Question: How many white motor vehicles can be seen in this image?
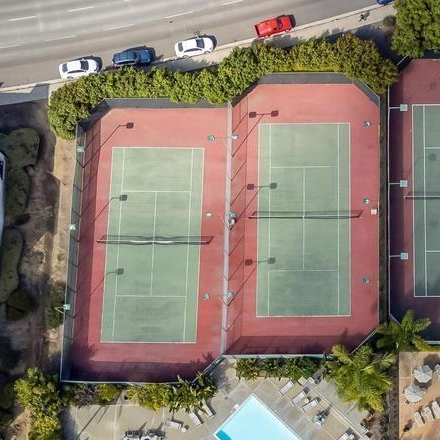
2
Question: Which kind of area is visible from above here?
sports ground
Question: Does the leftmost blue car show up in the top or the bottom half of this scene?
top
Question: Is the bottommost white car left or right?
left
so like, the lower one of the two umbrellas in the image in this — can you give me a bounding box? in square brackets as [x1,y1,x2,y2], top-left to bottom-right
[403,382,426,405]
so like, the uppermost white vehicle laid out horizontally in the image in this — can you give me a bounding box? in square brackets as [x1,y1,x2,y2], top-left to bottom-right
[174,36,215,59]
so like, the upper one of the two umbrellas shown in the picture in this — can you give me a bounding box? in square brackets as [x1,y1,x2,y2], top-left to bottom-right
[412,363,434,385]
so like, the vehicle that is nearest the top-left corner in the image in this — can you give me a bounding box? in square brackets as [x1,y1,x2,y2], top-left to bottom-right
[58,56,101,78]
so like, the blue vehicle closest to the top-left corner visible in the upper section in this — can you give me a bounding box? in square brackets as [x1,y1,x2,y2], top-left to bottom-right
[112,46,153,69]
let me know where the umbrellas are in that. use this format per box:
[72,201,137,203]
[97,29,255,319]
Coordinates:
[403,382,426,405]
[412,363,434,385]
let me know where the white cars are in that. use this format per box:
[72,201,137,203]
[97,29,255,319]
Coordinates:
[58,56,101,78]
[174,36,215,59]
